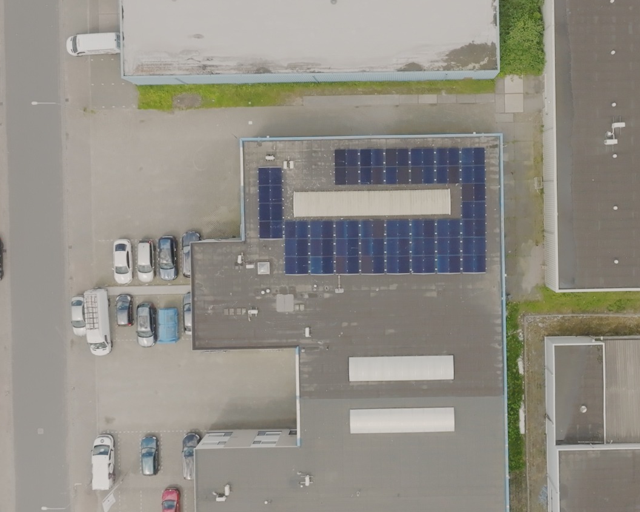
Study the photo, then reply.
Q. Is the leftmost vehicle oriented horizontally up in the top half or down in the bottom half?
top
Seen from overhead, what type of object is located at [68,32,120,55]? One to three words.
vehicle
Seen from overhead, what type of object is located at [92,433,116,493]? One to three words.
truck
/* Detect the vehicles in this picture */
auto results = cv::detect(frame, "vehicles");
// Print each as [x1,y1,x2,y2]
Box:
[177,233,199,276]
[111,240,133,283]
[115,295,134,327]
[177,294,191,336]
[135,303,158,346]
[180,433,201,480]
[92,433,116,493]
[159,488,181,512]
[156,237,177,280]
[68,296,83,336]
[139,435,160,476]
[83,290,110,353]
[134,241,156,281]
[68,32,120,55]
